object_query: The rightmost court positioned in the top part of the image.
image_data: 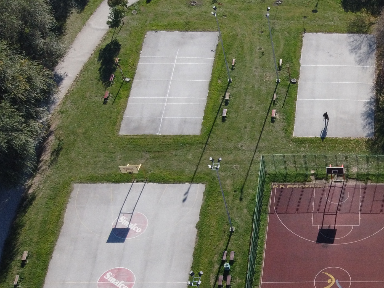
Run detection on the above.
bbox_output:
[294,33,376,137]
